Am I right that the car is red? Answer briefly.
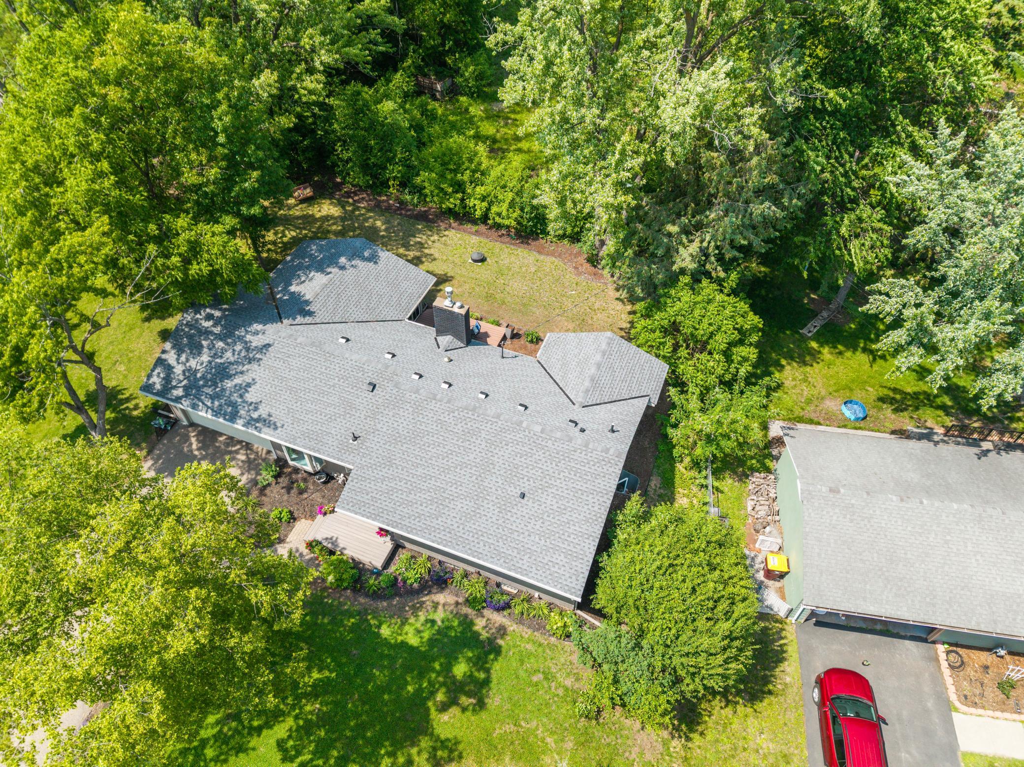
Yes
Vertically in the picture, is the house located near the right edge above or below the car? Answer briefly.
above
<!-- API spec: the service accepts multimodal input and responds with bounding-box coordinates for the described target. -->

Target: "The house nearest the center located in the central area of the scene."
[137,237,669,611]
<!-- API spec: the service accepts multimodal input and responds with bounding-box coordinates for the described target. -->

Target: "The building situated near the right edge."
[773,424,1024,654]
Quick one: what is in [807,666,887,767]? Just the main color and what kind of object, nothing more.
red car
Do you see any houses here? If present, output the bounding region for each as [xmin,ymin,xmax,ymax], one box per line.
[137,237,669,611]
[773,424,1024,654]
